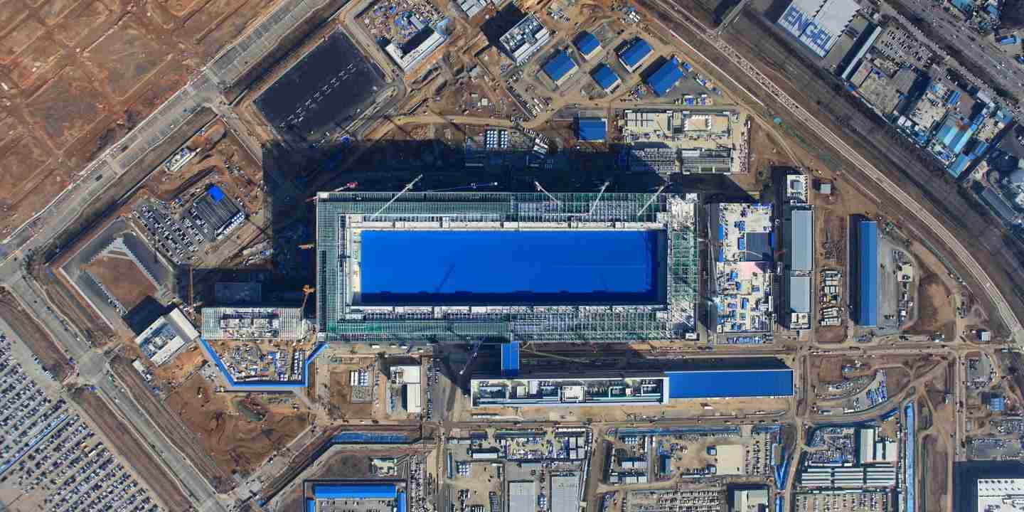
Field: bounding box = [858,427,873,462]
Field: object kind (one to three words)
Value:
shed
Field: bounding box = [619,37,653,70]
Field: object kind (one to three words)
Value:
shed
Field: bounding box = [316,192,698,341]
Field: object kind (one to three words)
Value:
building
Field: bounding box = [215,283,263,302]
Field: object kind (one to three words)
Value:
building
